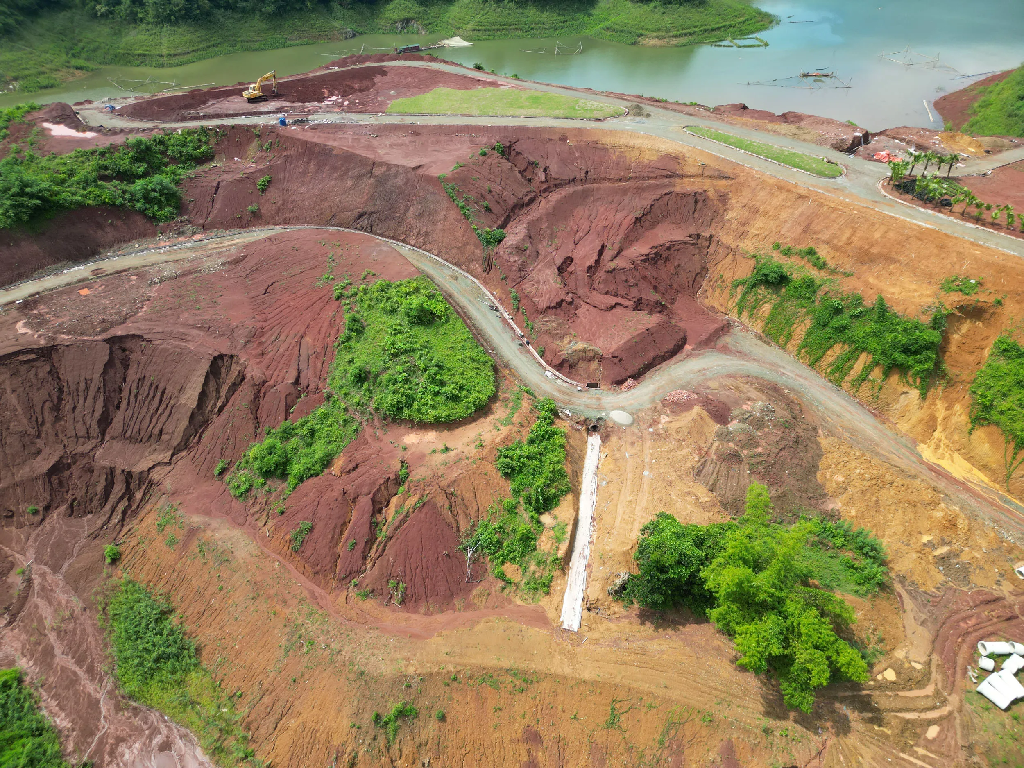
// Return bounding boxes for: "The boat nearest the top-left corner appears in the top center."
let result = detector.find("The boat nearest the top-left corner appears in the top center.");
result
[395,40,425,52]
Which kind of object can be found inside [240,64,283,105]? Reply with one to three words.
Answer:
work vehicle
